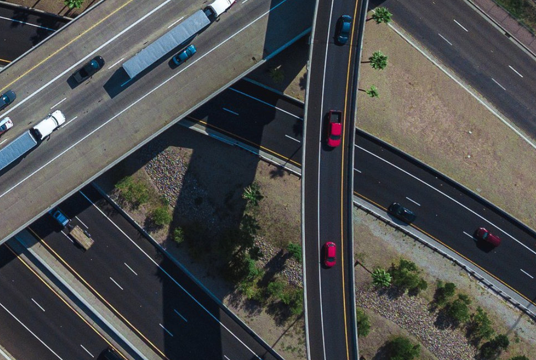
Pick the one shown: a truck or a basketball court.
truck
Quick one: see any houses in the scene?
No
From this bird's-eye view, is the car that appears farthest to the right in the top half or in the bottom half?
bottom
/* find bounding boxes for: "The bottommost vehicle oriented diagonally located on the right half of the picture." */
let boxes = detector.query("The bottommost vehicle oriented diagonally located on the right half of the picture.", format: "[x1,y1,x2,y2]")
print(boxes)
[474,227,500,247]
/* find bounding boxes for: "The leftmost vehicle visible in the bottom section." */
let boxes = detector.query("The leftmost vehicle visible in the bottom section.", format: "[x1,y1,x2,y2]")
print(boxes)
[47,206,91,247]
